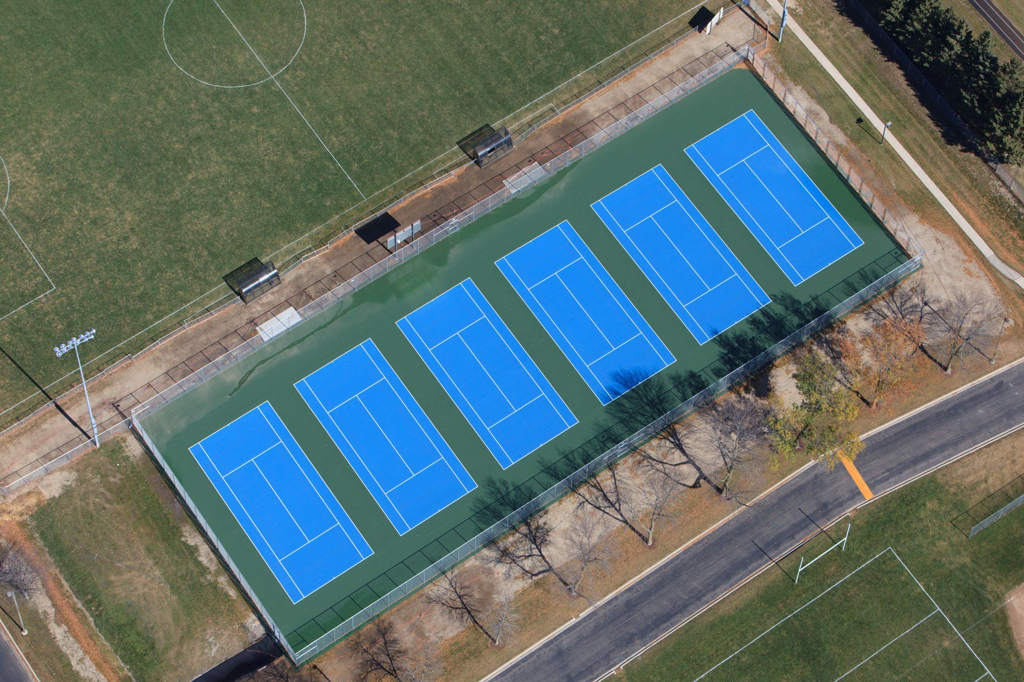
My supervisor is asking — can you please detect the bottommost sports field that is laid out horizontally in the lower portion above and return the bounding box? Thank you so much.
[694,547,997,682]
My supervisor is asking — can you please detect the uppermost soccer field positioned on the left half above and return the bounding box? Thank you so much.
[0,0,706,415]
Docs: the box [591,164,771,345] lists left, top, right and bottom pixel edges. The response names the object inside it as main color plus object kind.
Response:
blue tennis court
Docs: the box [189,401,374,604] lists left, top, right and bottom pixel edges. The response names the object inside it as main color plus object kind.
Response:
blue tennis court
